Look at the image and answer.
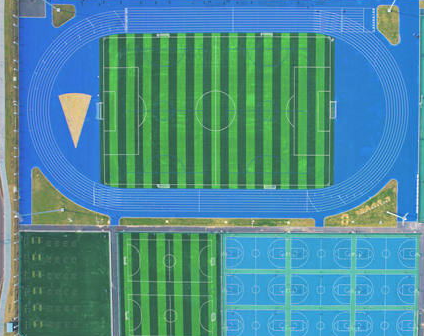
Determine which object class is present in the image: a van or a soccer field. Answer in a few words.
soccer field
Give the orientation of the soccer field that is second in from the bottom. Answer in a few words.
from left to right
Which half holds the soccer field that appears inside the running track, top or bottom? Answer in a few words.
top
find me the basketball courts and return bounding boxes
[226,274,285,305]
[227,310,285,336]
[291,310,350,336]
[355,311,413,336]
[225,237,285,269]
[355,274,415,306]
[291,274,350,306]
[290,237,351,269]
[355,237,416,270]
